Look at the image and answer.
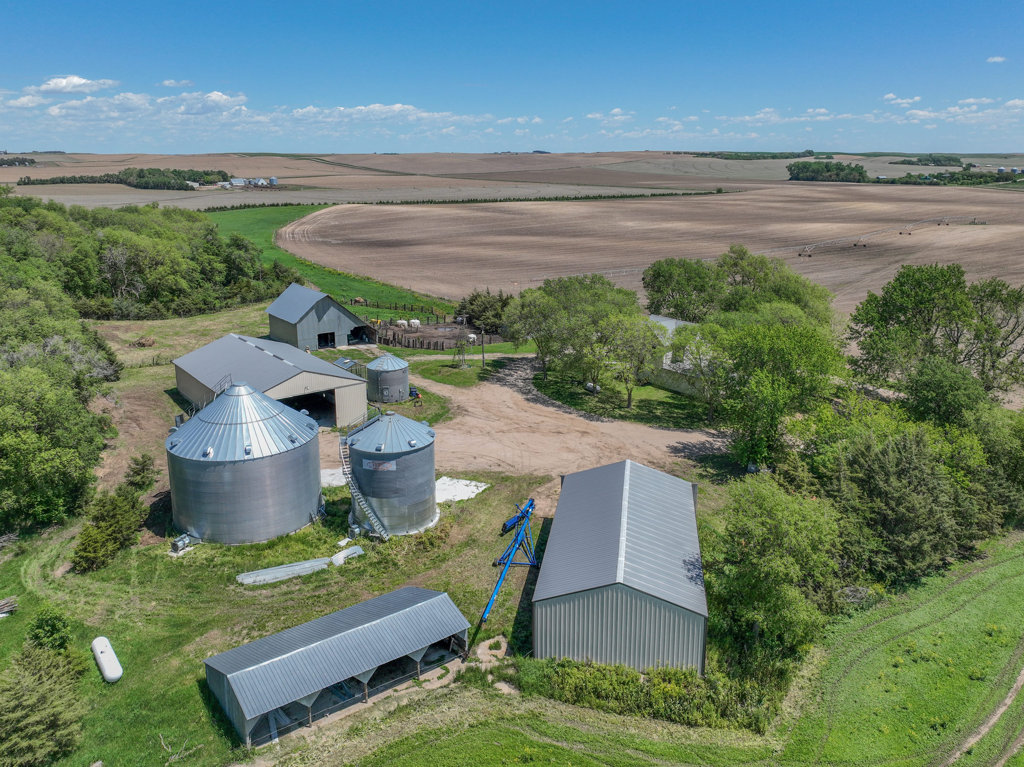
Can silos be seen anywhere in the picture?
Yes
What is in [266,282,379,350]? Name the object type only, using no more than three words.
barn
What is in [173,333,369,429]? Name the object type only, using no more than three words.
shed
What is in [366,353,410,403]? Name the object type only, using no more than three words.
silo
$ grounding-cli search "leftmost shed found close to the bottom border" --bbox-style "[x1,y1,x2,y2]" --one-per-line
[205,585,472,745]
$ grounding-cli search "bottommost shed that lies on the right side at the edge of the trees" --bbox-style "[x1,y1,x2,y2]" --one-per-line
[530,458,707,674]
